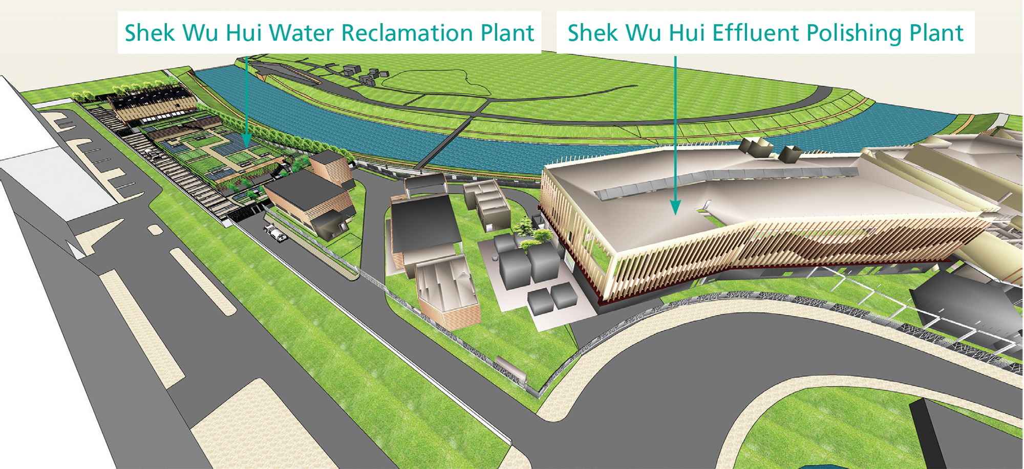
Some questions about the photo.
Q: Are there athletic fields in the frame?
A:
No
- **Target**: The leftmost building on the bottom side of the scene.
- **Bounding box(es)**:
[0,178,212,469]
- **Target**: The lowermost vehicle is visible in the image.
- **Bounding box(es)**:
[257,217,288,241]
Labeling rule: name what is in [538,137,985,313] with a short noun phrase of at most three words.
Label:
building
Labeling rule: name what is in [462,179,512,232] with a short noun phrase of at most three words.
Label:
building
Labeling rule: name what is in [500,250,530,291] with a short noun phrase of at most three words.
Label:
storage tank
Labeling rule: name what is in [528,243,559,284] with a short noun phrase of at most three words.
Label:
storage tank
